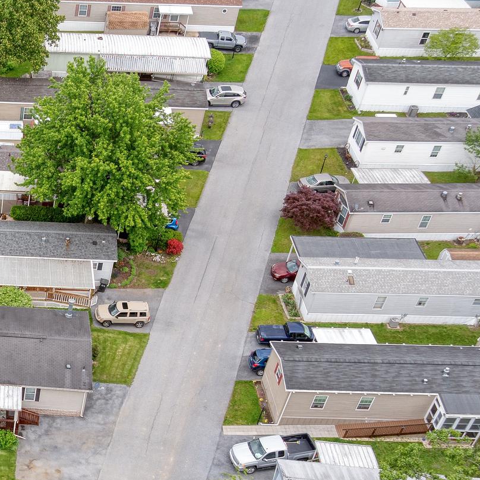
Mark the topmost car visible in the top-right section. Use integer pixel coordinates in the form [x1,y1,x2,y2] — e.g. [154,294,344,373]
[340,14,371,33]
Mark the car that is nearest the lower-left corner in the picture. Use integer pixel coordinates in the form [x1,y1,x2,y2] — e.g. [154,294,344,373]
[91,299,153,329]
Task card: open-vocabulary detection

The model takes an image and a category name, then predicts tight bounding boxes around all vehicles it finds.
[259,258,299,284]
[91,299,153,329]
[340,14,371,33]
[329,53,383,78]
[236,343,272,375]
[206,83,248,108]
[246,317,322,345]
[223,431,318,473]
[163,214,183,236]
[196,29,251,53]
[182,145,214,170]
